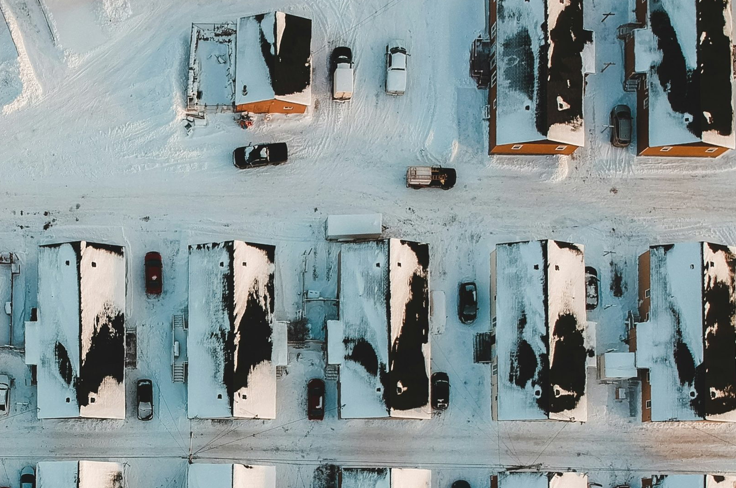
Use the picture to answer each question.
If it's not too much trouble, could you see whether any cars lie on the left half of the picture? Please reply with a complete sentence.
Yes, on the left half of the picture there is a car.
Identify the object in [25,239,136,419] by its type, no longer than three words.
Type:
house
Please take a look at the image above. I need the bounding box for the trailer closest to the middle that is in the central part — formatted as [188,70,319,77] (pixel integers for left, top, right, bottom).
[324,214,384,243]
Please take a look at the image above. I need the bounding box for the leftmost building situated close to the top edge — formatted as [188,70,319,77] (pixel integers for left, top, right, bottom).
[236,10,313,115]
